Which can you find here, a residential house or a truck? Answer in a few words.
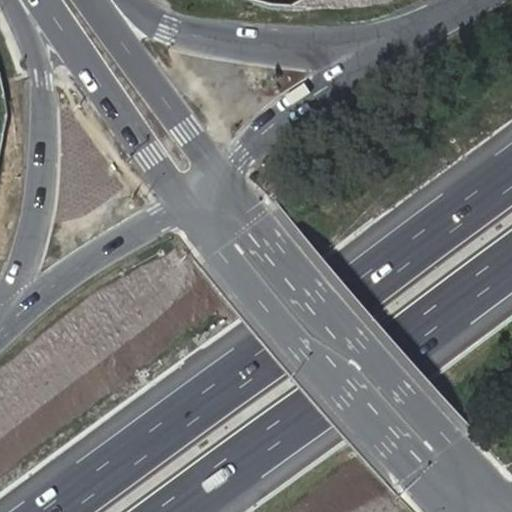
truck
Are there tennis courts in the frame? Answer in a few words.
No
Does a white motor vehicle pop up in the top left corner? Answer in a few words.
Yes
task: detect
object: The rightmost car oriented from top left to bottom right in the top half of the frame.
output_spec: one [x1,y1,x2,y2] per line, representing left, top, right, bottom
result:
[120,124,140,148]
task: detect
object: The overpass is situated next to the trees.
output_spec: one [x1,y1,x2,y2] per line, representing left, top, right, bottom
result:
[192,194,467,496]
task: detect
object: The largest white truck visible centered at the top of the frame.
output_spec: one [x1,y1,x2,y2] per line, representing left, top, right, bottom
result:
[274,82,311,114]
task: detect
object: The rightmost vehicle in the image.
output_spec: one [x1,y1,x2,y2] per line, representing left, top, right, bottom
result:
[450,204,472,222]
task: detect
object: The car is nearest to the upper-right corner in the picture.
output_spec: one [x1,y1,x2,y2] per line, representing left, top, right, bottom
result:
[323,62,345,81]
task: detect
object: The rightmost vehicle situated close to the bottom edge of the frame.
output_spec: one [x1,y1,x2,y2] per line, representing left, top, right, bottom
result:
[202,462,238,493]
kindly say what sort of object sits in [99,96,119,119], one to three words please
car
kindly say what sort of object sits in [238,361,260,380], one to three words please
car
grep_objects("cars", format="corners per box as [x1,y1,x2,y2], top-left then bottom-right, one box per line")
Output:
[372,263,394,282]
[18,290,42,310]
[238,361,260,380]
[99,96,119,119]
[252,108,276,130]
[33,141,45,166]
[36,486,58,506]
[323,62,345,81]
[236,26,260,38]
[120,124,140,148]
[288,104,308,120]
[102,235,124,255]
[5,260,22,284]
[34,186,46,210]
[450,204,472,222]
[46,500,66,512]
[29,0,42,8]
[78,68,98,92]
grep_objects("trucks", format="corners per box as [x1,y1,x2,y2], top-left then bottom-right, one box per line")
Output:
[202,462,238,493]
[274,82,311,114]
